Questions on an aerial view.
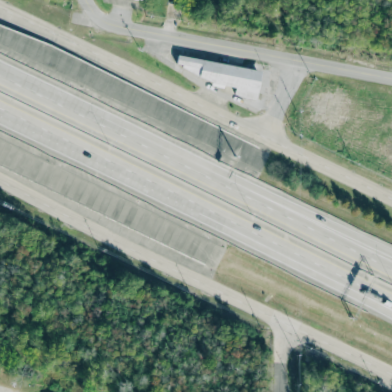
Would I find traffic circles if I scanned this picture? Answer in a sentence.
No, there's no traffic circle here.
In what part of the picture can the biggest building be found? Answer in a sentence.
The biggest building appears toward the top of the photo.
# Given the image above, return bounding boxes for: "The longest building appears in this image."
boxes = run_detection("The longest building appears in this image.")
[178,56,262,98]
